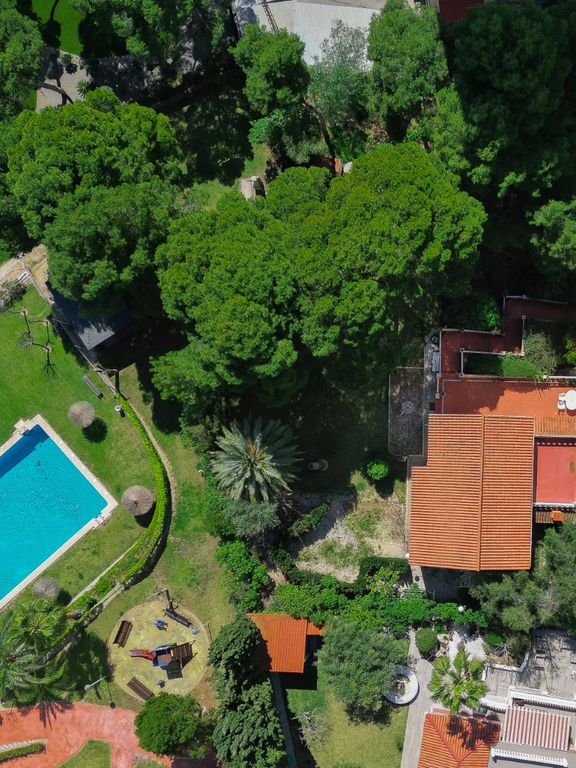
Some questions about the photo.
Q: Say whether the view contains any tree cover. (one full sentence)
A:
Yes, some tree cover is visible.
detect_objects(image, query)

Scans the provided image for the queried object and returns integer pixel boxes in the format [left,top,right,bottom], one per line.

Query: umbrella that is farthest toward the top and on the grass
[68,399,98,428]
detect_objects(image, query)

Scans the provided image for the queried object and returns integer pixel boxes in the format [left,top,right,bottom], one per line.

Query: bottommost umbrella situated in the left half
[33,574,62,602]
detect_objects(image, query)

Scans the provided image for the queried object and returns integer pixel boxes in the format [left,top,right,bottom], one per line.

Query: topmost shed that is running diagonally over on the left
[47,287,131,350]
